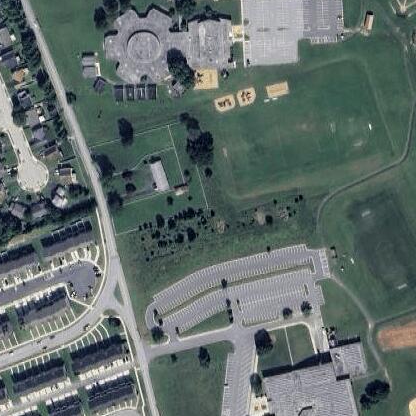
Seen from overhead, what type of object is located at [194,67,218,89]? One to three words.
playground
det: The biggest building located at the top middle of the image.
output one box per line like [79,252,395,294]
[104,9,231,83]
